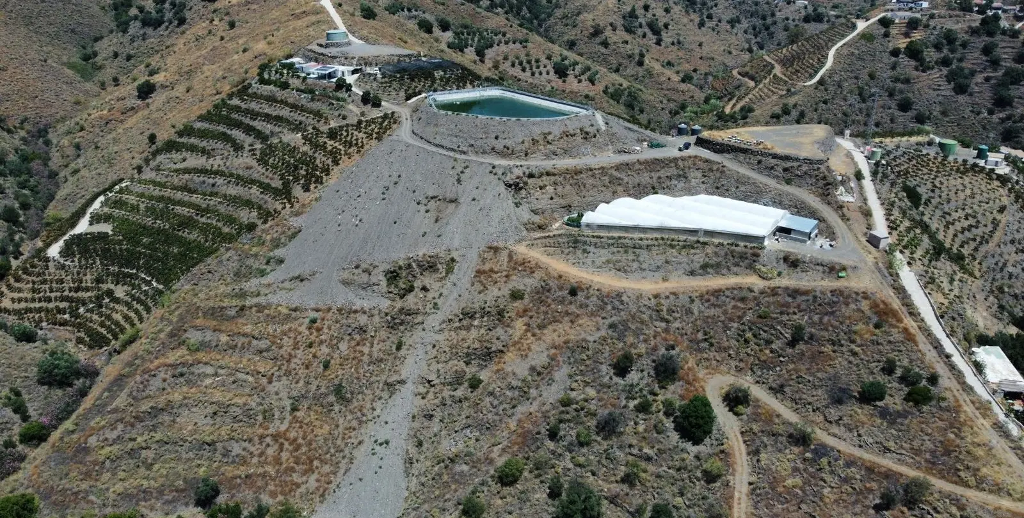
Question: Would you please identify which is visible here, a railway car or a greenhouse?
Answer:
greenhouse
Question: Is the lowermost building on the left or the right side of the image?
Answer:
right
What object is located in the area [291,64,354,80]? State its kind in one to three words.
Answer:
house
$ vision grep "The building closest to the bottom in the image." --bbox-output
[970,347,1024,397]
